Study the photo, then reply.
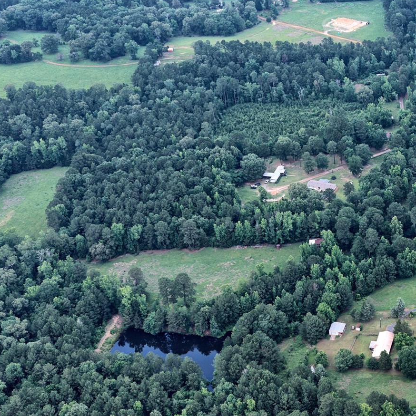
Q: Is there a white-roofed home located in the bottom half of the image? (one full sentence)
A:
Yes, I can see a white-roofed home in the bottom half of the image.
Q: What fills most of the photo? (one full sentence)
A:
For the most part, this view shows trees.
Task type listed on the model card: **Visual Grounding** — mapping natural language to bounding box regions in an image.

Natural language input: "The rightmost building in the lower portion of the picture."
[367,330,394,360]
